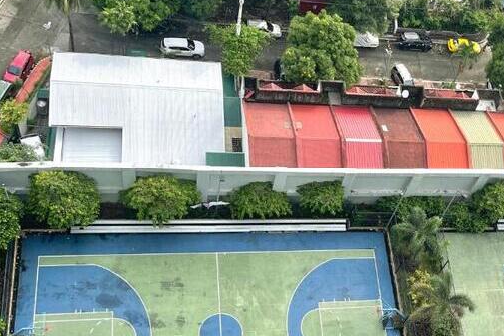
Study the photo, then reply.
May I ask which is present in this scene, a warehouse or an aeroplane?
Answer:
warehouse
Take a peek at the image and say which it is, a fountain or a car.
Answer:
car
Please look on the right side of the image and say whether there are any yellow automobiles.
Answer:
Yes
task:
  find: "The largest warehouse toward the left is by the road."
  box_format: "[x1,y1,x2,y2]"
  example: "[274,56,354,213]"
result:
[49,50,227,162]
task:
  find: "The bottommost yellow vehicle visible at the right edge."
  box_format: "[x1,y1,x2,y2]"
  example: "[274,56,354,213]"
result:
[446,34,482,52]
